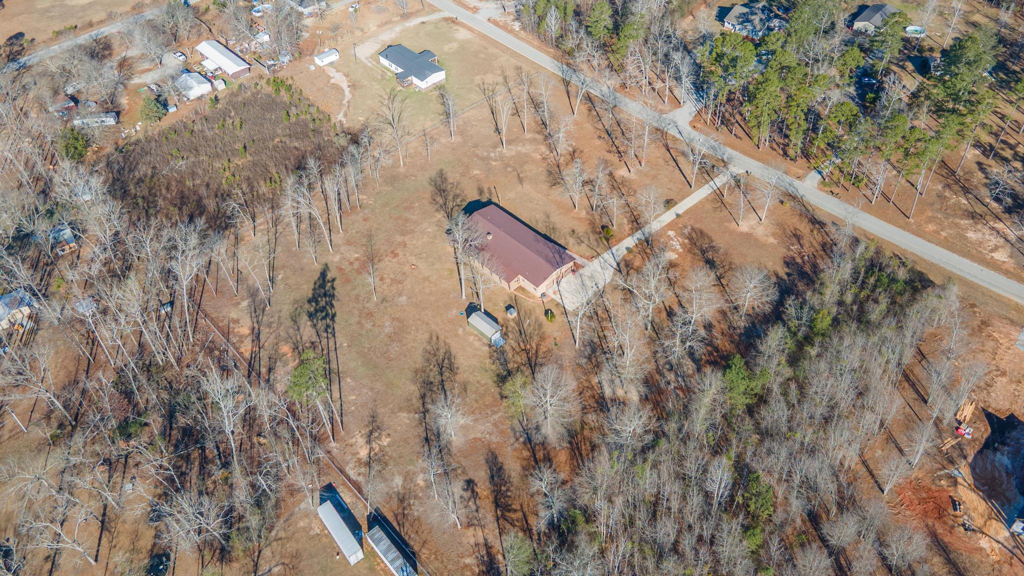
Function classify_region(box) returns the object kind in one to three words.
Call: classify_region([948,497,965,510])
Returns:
vehicle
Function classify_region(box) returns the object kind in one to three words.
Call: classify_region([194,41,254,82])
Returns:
house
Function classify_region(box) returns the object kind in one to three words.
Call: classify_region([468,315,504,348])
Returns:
shed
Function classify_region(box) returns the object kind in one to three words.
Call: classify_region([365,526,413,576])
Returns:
shipping container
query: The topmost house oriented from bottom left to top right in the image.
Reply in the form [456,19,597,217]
[853,0,893,33]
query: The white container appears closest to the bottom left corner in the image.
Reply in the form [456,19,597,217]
[317,502,364,565]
